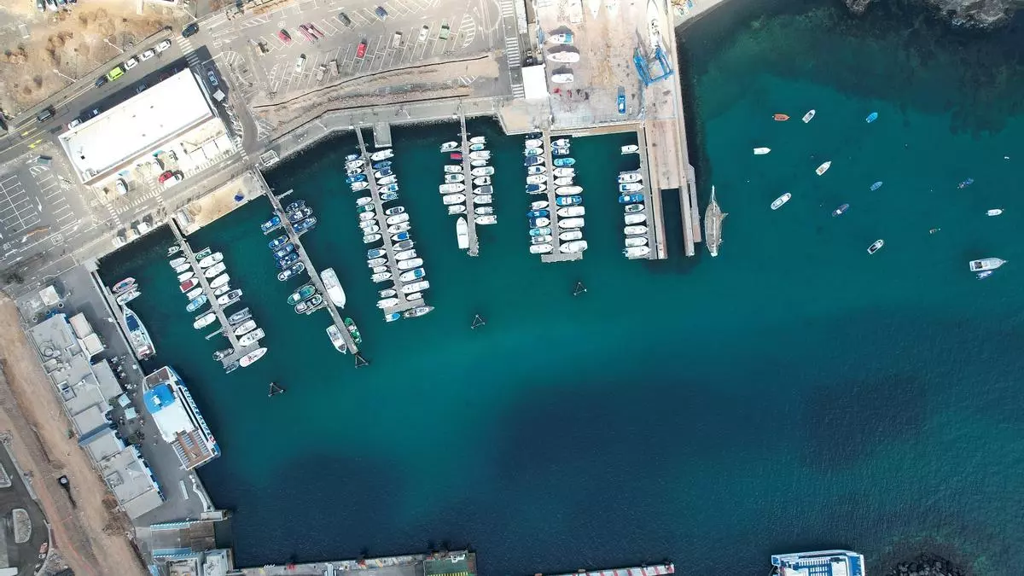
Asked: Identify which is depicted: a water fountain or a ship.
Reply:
ship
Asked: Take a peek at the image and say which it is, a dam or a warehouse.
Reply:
warehouse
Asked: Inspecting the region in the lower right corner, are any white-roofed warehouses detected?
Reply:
No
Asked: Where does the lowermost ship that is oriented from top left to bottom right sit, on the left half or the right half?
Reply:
left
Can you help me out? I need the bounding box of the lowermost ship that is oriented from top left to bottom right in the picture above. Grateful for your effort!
[142,365,223,465]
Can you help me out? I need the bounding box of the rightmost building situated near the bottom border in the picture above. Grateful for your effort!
[202,542,236,576]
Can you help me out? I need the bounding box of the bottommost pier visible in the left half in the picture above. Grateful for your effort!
[236,546,476,576]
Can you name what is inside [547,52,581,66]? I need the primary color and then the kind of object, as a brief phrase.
white boat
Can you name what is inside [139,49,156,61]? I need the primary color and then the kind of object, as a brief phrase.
white vehicle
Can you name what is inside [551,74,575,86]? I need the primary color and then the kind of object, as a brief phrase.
white boat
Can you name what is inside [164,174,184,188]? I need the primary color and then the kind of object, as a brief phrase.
white vehicle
